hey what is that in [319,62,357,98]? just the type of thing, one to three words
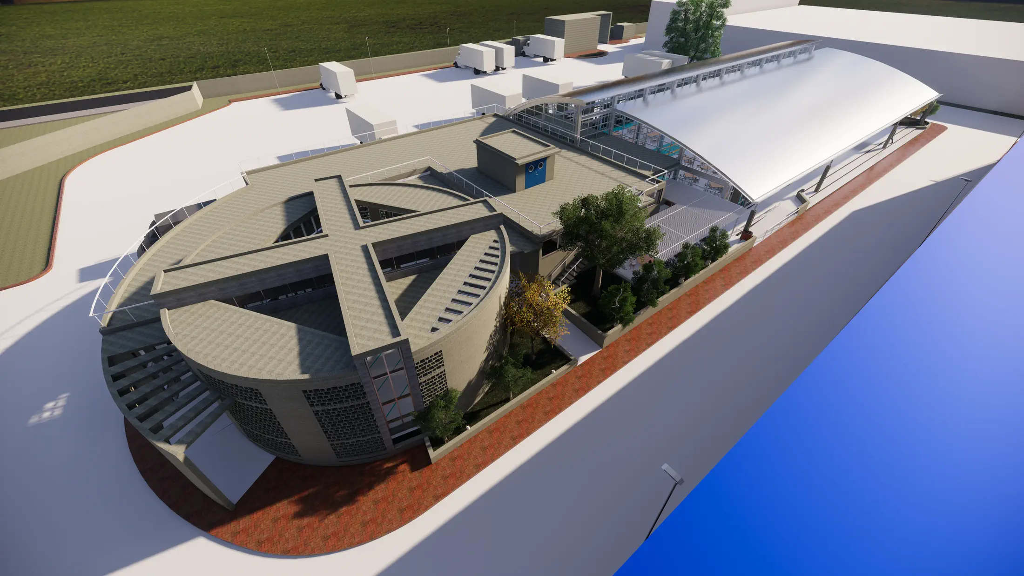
truck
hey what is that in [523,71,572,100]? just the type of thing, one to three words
truck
